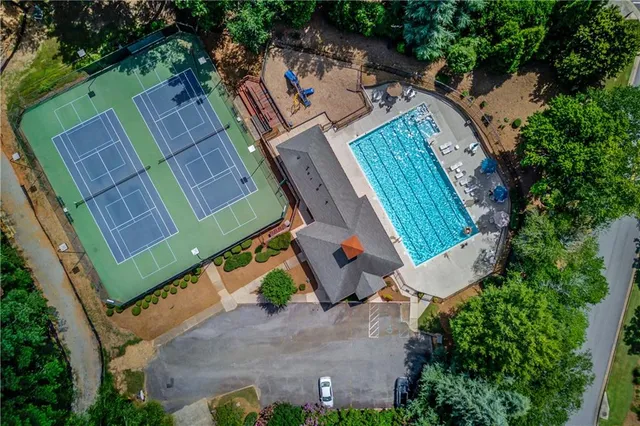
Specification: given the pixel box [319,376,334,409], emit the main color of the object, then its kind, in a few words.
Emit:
white car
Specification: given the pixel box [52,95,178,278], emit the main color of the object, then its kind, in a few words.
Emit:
blue tennis court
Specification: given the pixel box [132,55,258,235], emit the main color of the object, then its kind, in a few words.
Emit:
blue tennis court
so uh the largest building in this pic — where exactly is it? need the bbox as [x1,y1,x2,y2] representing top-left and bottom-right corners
[276,125,404,304]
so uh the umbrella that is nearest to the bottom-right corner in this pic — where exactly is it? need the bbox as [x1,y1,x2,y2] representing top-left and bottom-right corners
[493,211,509,227]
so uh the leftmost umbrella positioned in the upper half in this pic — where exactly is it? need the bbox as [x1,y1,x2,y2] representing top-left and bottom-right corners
[387,82,402,97]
